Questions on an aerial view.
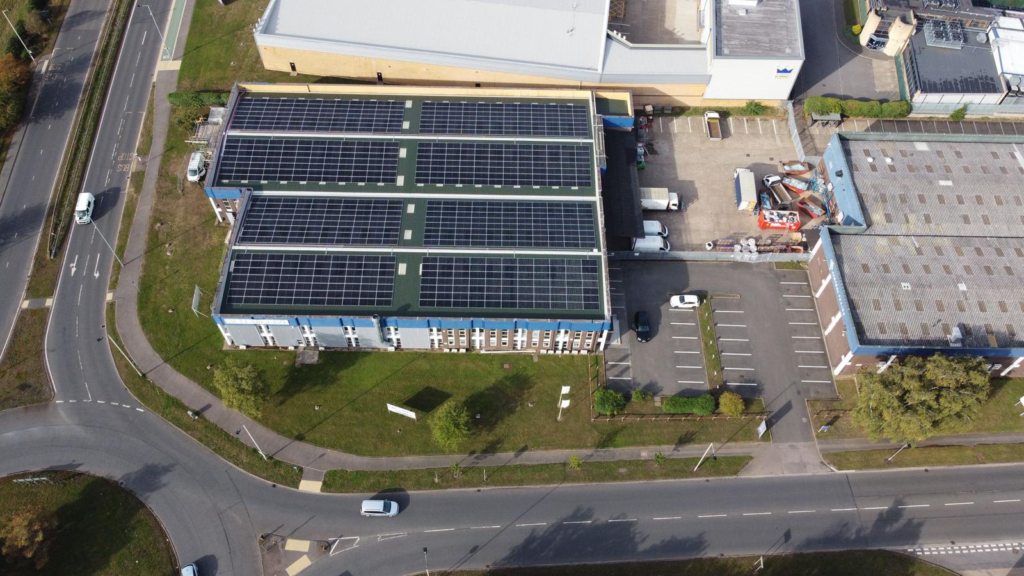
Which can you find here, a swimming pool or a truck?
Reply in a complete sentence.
It is a truck that can be seen here.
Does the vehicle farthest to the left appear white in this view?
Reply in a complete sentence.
Yes, the vehicle farthest to the left is white.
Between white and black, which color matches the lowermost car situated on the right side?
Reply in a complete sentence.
The lowermost car situated on the right side is black.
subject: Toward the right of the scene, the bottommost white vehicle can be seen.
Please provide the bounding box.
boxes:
[669,294,701,309]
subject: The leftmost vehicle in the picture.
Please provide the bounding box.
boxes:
[73,192,96,224]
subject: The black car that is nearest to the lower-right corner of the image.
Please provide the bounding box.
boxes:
[629,312,649,342]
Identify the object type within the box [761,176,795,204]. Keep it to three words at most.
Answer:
truck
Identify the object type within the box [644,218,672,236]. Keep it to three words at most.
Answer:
vehicle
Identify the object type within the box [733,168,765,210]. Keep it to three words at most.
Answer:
truck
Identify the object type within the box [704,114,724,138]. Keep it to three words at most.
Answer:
vehicle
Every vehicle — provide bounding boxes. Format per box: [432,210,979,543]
[360,499,400,518]
[73,192,96,224]
[644,218,672,236]
[629,312,649,342]
[733,168,765,210]
[669,294,701,309]
[185,151,208,182]
[632,235,670,251]
[704,114,724,138]
[641,184,681,211]
[761,176,795,204]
